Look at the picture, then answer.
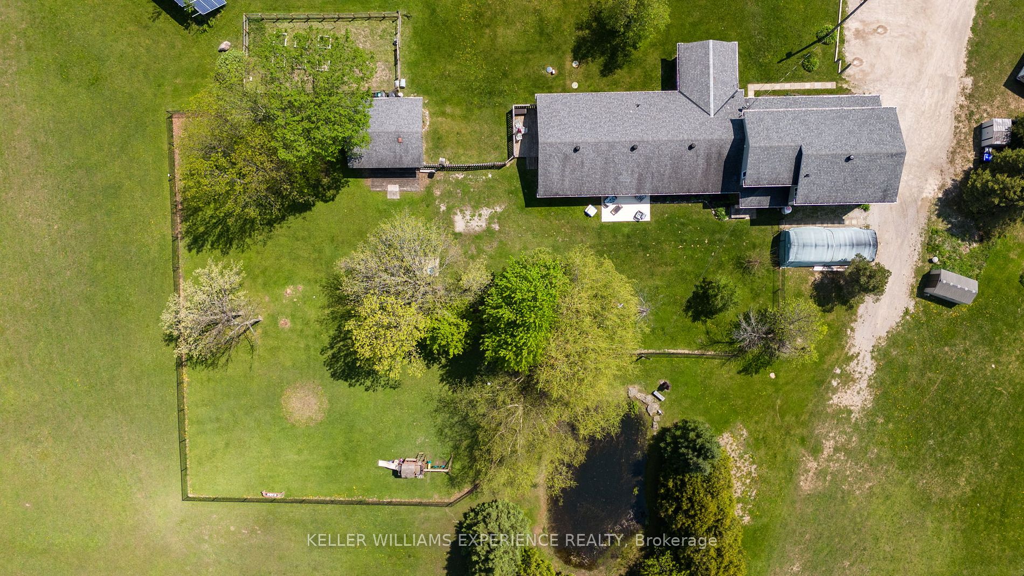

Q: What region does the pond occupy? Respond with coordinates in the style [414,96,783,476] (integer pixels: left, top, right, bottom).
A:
[546,413,647,561]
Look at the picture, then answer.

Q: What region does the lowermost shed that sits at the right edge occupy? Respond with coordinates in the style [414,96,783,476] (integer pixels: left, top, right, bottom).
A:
[921,269,977,304]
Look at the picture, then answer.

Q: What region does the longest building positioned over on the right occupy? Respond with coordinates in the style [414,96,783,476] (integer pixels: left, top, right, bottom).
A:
[535,38,907,209]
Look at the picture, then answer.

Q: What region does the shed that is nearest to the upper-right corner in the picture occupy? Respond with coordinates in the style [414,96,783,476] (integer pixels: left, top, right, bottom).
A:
[981,118,1016,146]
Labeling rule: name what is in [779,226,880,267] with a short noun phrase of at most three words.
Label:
building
